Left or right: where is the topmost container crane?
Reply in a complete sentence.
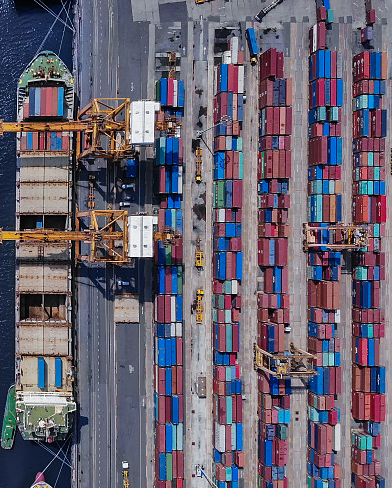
You can find the topmost container crane on the left side of the picture.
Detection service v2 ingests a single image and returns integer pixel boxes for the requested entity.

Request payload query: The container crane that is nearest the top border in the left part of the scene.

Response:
[0,98,182,169]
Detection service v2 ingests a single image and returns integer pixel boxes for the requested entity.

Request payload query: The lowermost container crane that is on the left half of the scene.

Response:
[0,205,182,264]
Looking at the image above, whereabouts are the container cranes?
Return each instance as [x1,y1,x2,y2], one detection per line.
[305,223,372,251]
[257,344,321,377]
[0,205,182,264]
[0,98,182,169]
